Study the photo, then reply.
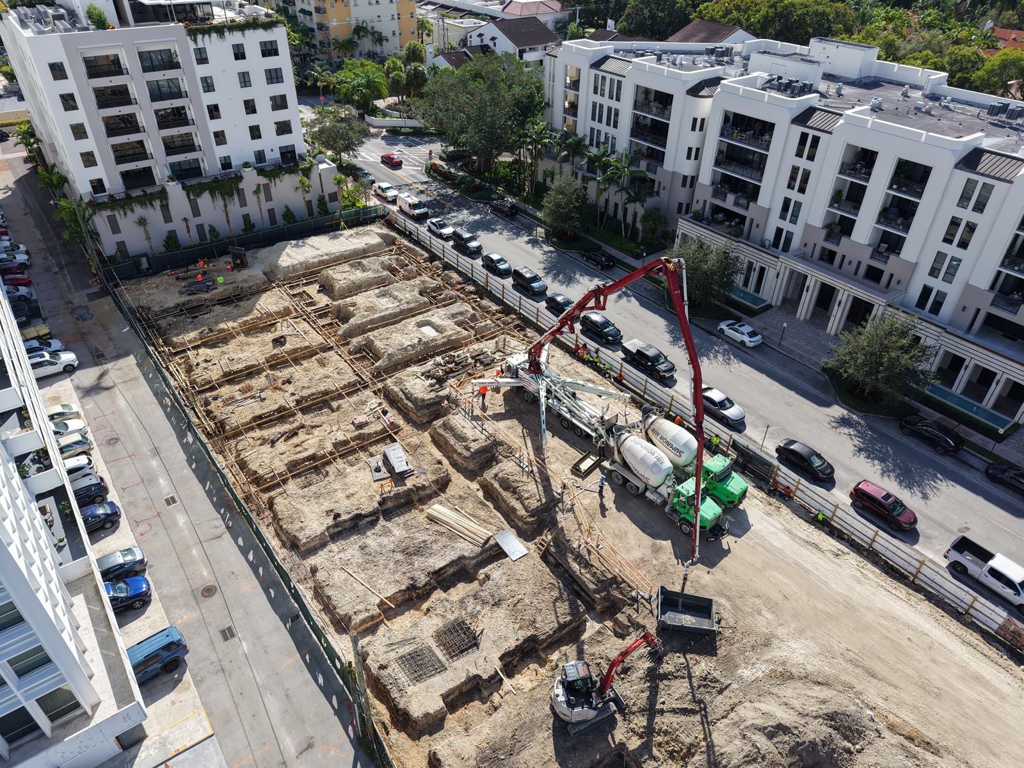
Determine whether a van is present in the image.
Yes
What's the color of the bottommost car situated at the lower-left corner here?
blue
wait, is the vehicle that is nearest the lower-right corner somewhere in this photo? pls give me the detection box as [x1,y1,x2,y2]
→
[946,540,1024,615]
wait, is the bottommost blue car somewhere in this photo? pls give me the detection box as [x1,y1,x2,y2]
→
[124,629,192,689]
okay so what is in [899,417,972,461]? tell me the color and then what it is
black car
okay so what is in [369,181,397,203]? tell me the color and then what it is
white truck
